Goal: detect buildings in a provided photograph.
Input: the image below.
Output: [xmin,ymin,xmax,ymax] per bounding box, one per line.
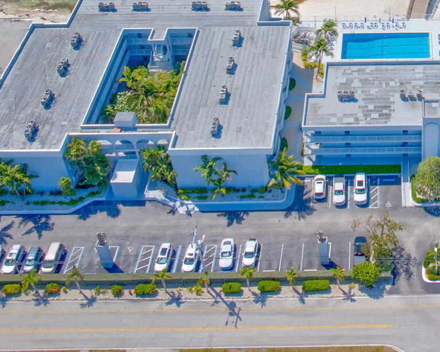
[301,61,440,166]
[0,0,305,198]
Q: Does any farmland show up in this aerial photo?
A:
No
